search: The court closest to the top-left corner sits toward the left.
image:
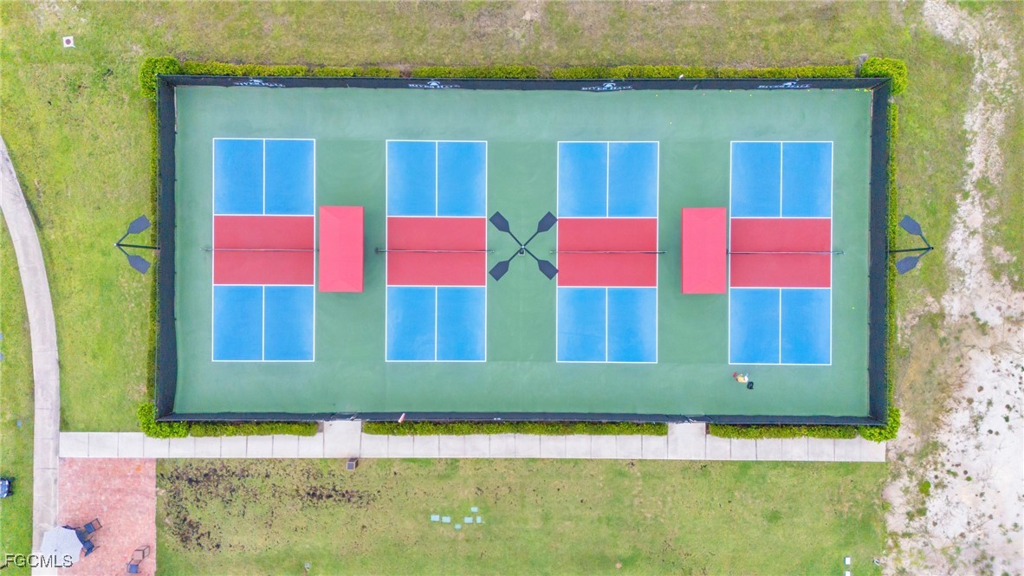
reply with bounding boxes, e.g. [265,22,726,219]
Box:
[212,138,315,362]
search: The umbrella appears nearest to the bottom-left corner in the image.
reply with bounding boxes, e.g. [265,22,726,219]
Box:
[40,527,85,570]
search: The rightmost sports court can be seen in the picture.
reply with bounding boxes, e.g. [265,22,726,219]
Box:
[730,141,833,365]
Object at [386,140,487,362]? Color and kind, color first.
blue sports court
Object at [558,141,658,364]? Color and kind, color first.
blue sports court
